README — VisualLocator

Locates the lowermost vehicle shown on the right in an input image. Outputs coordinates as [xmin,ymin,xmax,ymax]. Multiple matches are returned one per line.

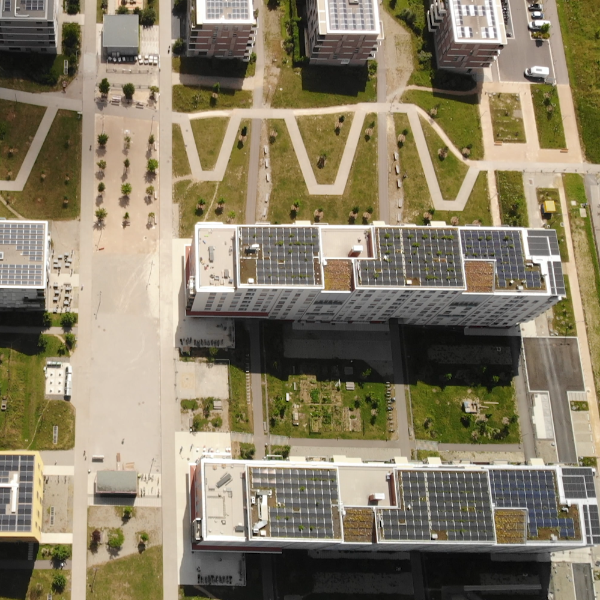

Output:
[526,64,553,78]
